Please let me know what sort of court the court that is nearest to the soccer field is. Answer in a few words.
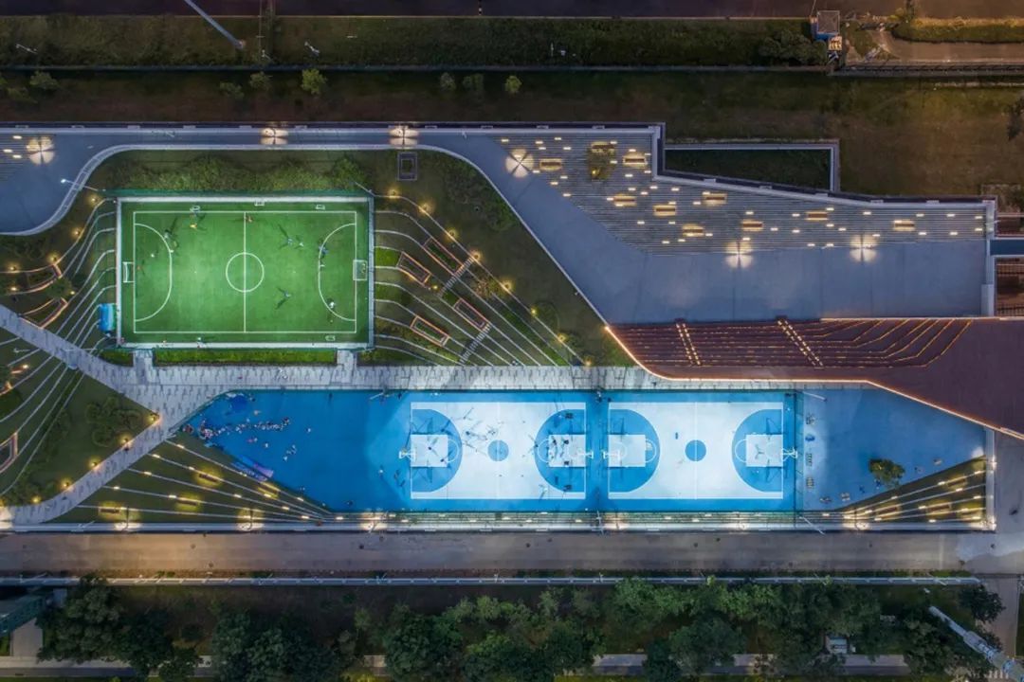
basketball court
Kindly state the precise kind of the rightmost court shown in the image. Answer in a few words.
basketball court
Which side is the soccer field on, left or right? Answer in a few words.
left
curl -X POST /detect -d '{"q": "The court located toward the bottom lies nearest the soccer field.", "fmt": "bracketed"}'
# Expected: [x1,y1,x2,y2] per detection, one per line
[410,402,586,499]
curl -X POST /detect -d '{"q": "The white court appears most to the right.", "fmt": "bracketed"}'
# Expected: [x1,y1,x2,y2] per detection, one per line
[608,402,784,499]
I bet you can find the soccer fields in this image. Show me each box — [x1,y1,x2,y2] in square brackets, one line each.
[115,197,375,348]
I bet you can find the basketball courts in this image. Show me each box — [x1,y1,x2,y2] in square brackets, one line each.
[608,402,784,499]
[410,402,586,499]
